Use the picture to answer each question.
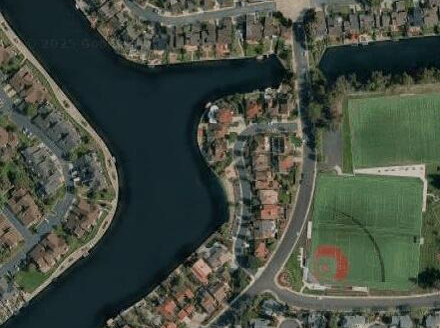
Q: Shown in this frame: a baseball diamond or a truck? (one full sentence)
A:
Of the two, only a baseball diamond appears.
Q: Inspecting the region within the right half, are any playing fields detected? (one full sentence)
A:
Yes, there is a playing field within the right half.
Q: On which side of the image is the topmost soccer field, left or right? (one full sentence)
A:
You can find the topmost soccer field on the right side of the picture.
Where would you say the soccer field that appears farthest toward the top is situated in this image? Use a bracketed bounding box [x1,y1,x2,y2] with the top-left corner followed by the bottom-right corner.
[350,93,440,170]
